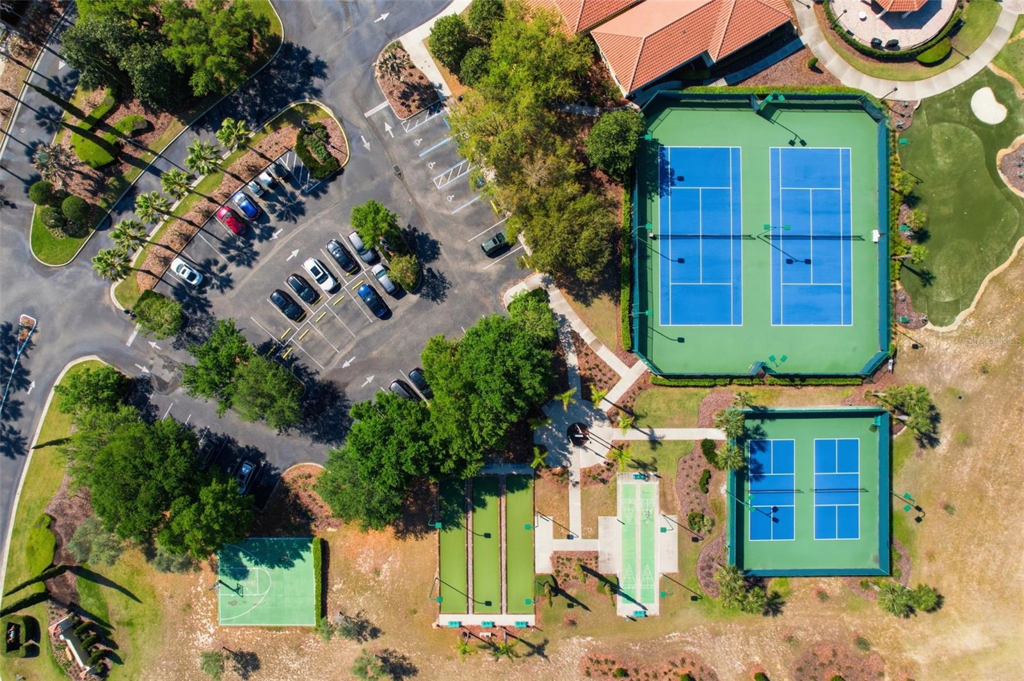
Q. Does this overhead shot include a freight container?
No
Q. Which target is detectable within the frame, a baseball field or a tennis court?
tennis court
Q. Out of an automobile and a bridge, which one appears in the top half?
automobile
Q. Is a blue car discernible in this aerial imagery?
Yes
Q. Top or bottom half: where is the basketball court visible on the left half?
bottom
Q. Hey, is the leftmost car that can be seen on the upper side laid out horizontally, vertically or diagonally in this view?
diagonally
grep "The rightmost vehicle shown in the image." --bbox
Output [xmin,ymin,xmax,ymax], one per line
[481,233,507,254]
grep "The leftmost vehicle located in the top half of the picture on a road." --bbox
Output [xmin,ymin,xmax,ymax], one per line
[171,257,204,285]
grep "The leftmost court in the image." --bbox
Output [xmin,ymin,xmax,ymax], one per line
[218,538,314,626]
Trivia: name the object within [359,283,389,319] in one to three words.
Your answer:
car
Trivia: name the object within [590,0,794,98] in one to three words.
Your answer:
building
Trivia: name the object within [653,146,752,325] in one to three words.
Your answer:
tennis court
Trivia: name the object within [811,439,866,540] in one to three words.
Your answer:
sports court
